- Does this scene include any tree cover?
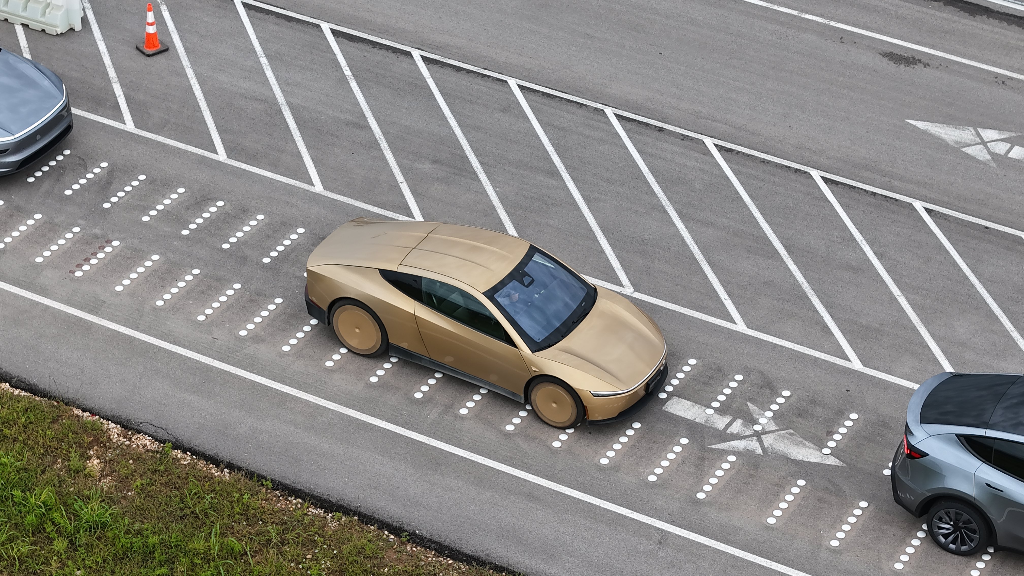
No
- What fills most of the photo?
paved ground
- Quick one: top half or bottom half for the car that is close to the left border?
top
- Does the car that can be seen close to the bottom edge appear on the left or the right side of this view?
right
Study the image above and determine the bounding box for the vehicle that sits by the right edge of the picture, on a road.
[891,369,1024,560]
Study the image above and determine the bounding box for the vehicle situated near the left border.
[0,44,72,178]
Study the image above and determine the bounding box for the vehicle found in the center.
[307,214,672,427]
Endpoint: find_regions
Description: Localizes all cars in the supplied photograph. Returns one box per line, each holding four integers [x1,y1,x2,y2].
[307,214,672,427]
[0,44,72,178]
[891,369,1024,560]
